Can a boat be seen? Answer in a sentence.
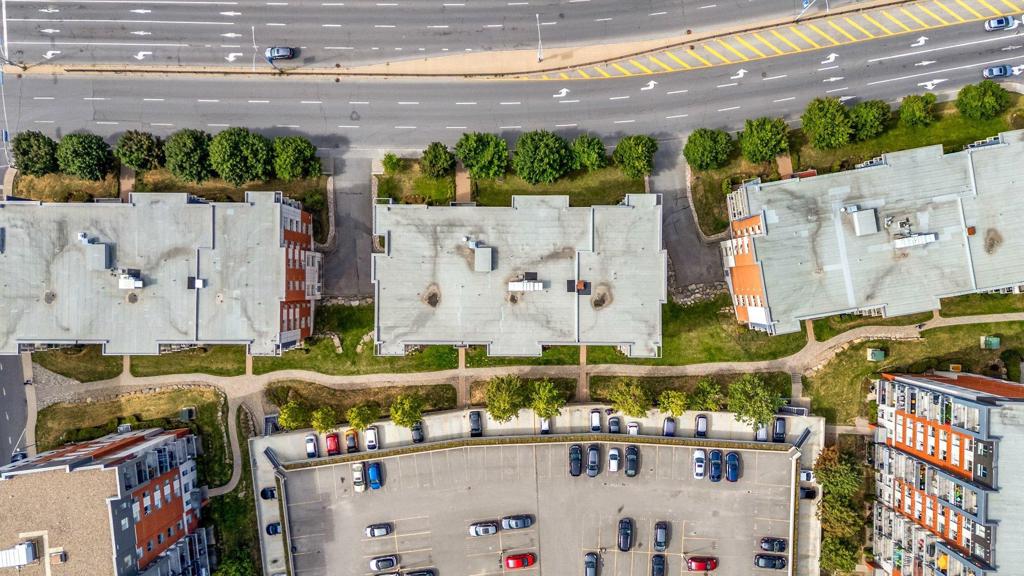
No, I find no boat anywhere in the image.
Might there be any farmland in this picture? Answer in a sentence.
No, no farmland is visible.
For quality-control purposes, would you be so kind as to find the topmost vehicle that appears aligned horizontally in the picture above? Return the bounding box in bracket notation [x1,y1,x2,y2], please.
[984,15,1013,32]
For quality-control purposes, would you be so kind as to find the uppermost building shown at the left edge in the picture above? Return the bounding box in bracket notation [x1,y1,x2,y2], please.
[0,192,326,356]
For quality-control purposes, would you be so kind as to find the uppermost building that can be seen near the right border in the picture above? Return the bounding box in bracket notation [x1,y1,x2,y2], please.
[703,129,1024,336]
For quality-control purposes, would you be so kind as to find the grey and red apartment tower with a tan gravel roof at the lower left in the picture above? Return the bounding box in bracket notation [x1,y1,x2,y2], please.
[0,427,213,576]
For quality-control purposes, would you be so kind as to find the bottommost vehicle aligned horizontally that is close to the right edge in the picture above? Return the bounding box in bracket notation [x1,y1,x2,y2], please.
[981,64,1011,80]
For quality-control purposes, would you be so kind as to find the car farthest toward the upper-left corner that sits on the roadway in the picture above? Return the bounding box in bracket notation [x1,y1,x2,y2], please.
[266,45,294,60]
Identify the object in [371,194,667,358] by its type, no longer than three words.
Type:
building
